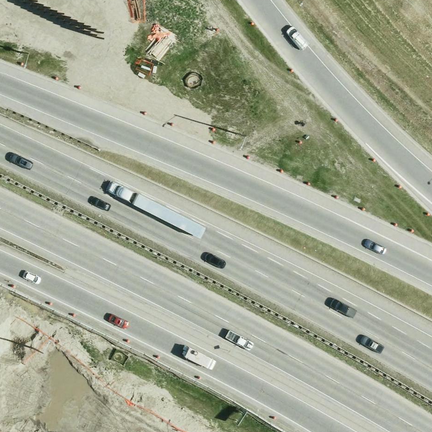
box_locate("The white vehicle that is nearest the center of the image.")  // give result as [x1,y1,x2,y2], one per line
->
[105,182,206,238]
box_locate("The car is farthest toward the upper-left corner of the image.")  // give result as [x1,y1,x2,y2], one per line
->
[9,153,34,170]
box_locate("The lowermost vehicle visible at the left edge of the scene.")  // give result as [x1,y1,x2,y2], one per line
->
[22,270,43,285]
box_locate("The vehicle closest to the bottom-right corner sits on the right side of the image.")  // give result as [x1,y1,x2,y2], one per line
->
[359,336,386,355]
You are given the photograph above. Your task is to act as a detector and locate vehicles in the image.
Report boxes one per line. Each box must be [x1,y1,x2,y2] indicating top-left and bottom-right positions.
[364,239,387,256]
[287,28,308,49]
[9,153,34,170]
[108,314,129,329]
[328,298,357,319]
[90,196,112,211]
[105,182,206,238]
[204,252,227,270]
[359,336,386,355]
[22,270,43,285]
[182,345,217,368]
[227,331,256,352]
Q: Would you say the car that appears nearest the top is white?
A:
Yes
